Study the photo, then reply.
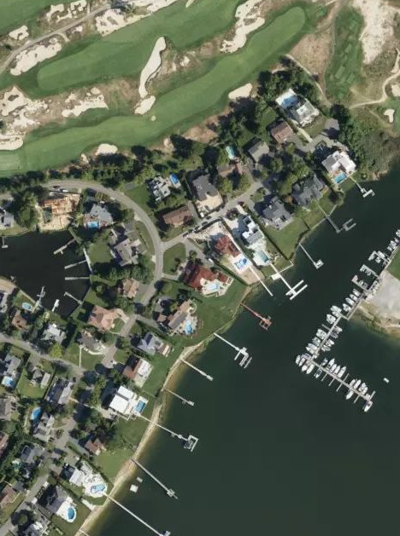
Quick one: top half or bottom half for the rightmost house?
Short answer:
top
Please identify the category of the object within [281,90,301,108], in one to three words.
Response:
swimming pool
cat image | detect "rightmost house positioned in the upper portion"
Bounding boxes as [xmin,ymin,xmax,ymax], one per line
[326,148,358,177]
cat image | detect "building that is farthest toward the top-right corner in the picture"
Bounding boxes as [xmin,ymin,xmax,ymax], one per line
[290,102,319,129]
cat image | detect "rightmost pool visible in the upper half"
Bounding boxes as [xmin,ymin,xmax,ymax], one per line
[330,169,350,187]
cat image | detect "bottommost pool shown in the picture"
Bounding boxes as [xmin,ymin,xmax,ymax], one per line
[59,496,77,523]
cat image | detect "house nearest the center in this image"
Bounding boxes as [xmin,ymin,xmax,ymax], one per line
[181,259,224,290]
